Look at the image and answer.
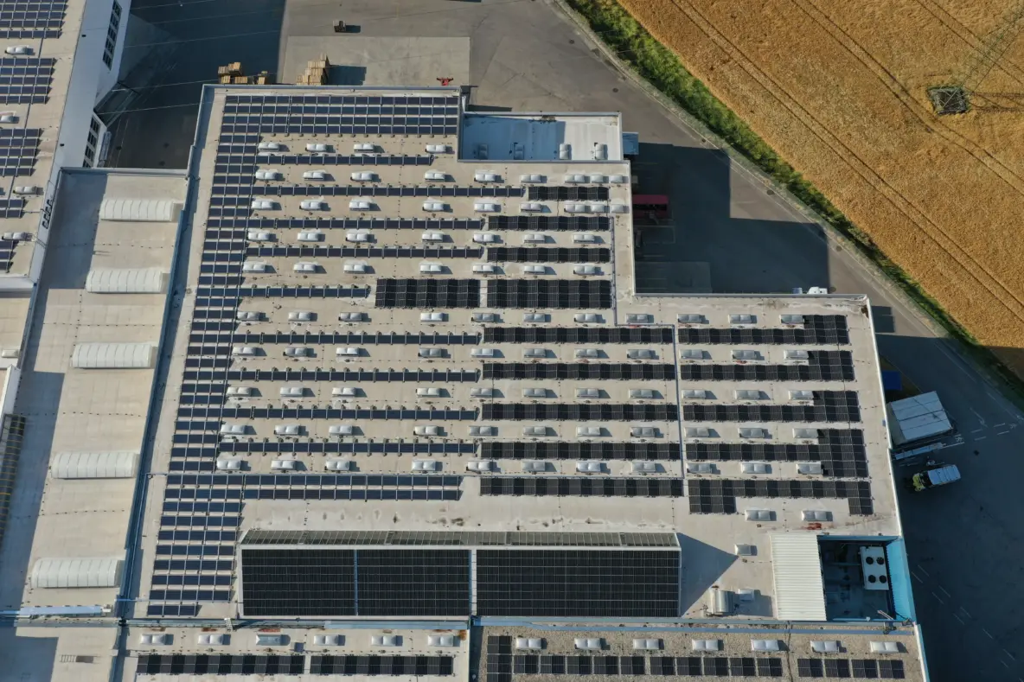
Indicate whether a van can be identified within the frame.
Yes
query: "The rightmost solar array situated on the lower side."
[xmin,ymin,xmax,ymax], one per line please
[477,552,679,615]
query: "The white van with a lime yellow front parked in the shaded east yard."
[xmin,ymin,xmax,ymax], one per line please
[904,465,964,495]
